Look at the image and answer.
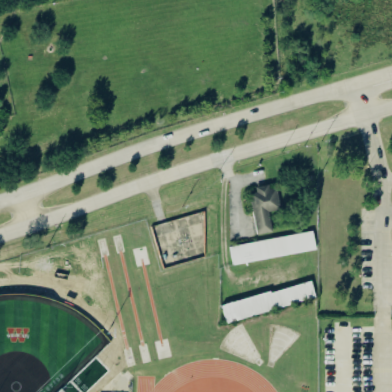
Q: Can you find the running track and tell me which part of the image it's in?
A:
bottom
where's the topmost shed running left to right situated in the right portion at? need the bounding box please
[229,231,317,265]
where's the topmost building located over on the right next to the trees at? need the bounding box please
[250,182,278,235]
